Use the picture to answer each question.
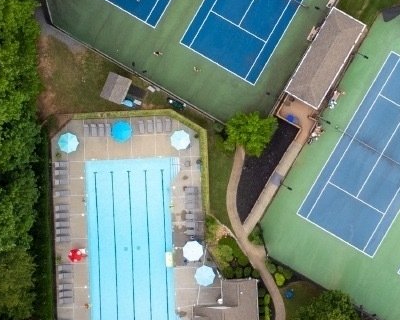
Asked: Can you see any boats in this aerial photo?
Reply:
No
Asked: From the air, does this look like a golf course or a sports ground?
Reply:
sports ground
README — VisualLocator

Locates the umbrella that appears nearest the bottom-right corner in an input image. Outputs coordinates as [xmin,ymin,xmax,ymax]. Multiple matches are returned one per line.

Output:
[195,264,216,285]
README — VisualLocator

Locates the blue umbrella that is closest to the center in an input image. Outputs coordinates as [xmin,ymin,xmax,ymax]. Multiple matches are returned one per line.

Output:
[111,119,134,142]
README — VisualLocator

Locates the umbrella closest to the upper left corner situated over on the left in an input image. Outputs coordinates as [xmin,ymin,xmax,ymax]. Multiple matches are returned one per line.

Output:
[58,131,80,153]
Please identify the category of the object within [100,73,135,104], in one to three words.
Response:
shed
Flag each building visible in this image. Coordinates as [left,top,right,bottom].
[285,8,367,109]
[191,279,261,320]
[100,73,135,104]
